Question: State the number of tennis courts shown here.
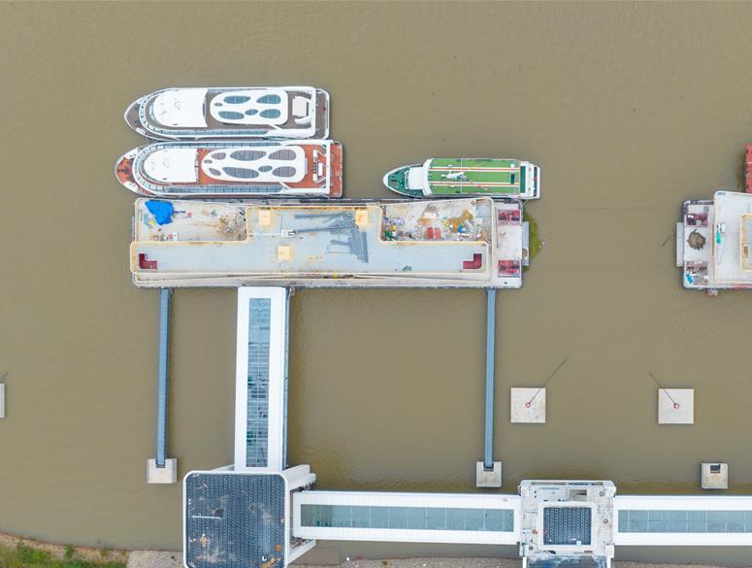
none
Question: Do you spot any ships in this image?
Yes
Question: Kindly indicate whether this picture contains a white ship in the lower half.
No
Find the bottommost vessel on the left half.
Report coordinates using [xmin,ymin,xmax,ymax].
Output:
[113,139,345,199]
